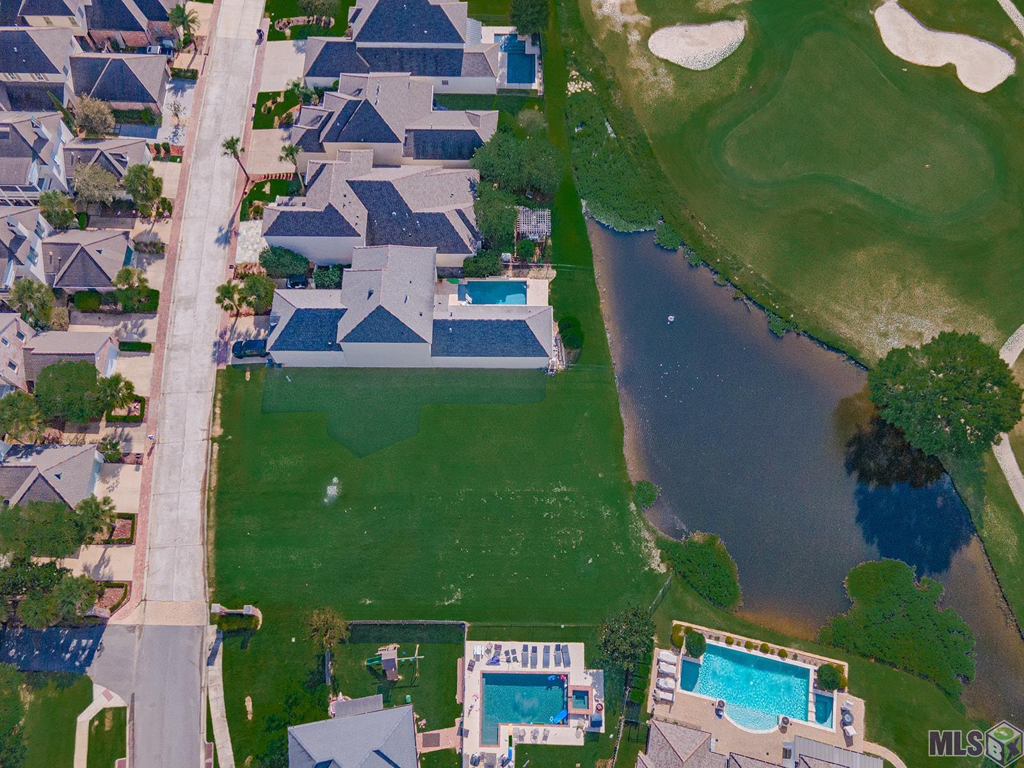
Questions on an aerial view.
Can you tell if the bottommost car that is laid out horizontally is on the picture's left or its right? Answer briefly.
left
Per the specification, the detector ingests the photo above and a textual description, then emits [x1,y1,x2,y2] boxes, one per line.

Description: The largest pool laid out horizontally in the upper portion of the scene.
[456,279,529,306]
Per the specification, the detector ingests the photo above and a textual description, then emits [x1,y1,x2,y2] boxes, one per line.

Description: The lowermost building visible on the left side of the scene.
[287,694,420,768]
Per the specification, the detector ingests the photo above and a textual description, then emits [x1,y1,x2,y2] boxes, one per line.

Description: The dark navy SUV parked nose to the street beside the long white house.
[228,339,269,359]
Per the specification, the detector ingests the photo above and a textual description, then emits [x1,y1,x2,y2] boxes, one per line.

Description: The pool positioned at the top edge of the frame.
[492,32,537,84]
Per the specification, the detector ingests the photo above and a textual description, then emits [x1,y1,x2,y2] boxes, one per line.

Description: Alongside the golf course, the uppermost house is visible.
[304,0,498,93]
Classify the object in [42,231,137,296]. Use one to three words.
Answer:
building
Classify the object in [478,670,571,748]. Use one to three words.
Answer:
swimming pool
